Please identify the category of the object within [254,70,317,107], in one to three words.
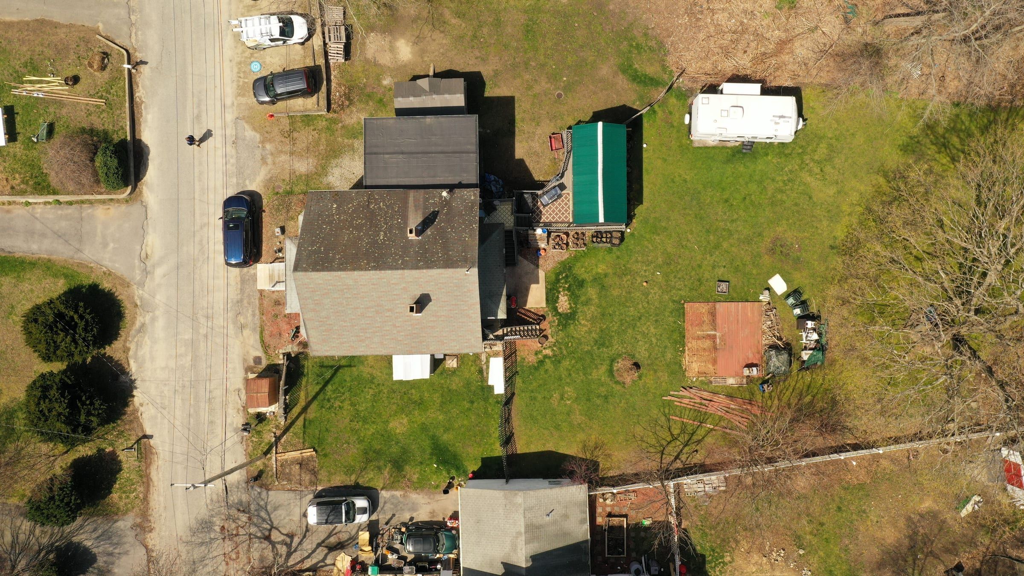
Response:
car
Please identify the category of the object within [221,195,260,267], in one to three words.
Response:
car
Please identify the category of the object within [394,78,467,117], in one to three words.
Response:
shed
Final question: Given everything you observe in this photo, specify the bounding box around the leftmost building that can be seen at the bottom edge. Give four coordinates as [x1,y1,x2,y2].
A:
[458,477,591,576]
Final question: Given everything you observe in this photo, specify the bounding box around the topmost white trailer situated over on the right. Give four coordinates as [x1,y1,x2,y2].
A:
[684,83,805,144]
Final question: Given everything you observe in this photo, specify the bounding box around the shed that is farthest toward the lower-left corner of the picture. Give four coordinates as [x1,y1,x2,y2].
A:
[246,370,283,414]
